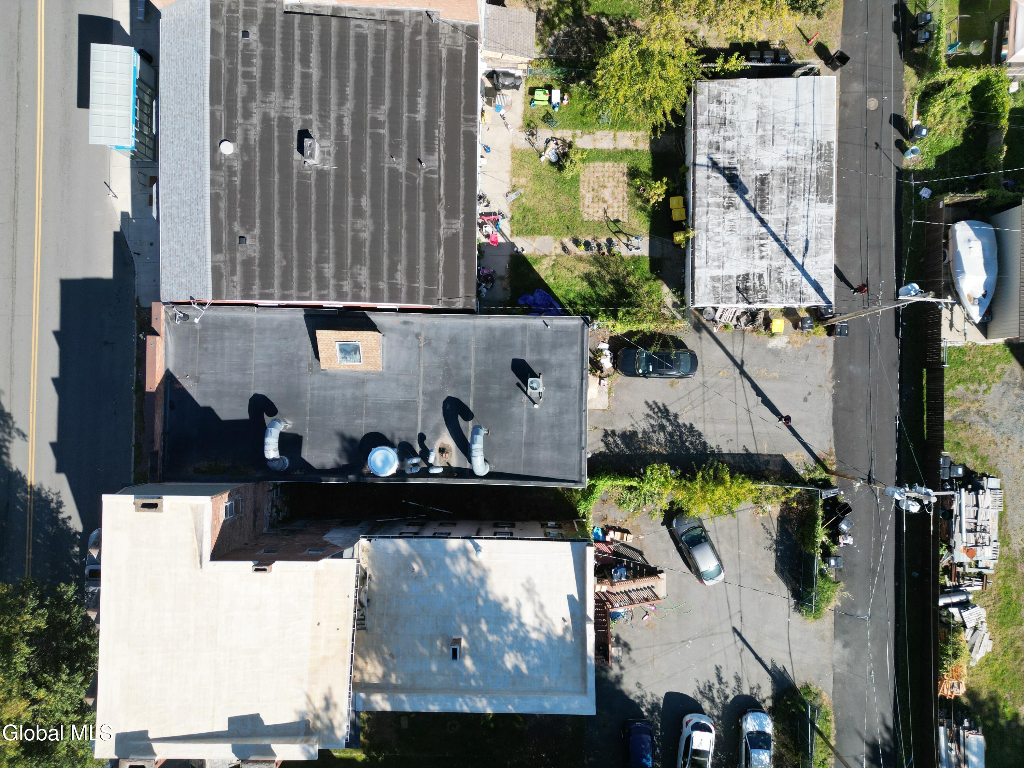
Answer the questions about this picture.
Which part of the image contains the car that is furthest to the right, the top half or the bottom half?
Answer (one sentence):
The car that is furthest to the right sits in the bottom half of the picture.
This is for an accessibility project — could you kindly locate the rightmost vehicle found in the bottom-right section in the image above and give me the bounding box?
[736,704,775,768]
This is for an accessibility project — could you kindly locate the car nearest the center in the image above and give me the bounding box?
[616,345,699,383]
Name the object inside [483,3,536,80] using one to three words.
shed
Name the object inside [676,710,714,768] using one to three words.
car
